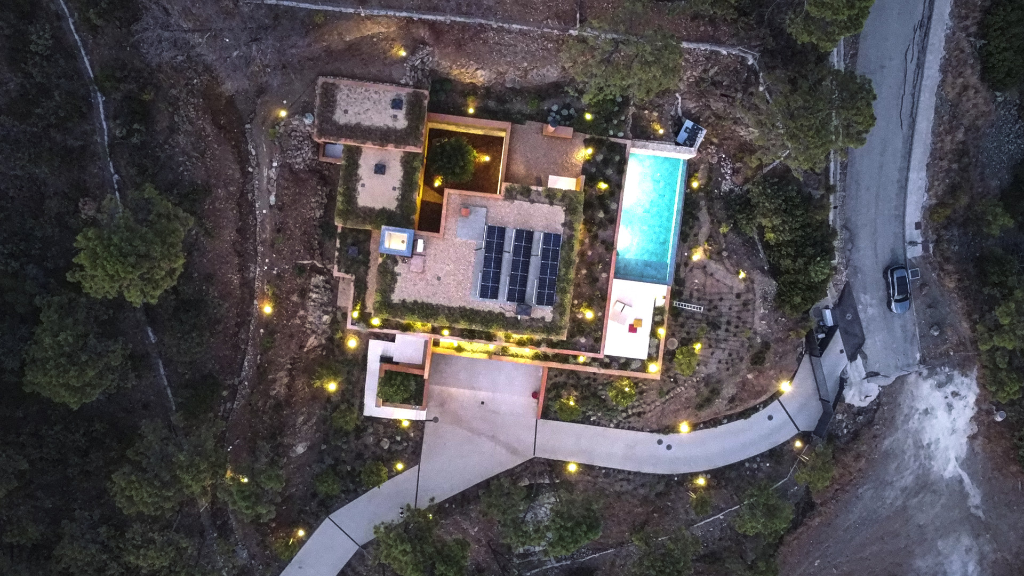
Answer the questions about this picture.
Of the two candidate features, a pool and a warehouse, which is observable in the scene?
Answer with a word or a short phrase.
pool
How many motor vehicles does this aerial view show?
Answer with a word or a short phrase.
one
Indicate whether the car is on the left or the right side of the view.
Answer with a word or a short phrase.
right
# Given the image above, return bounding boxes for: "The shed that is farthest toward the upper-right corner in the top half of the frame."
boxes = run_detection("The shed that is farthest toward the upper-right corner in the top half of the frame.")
[671,119,707,150]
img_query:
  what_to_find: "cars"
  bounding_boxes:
[885,265,915,314]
